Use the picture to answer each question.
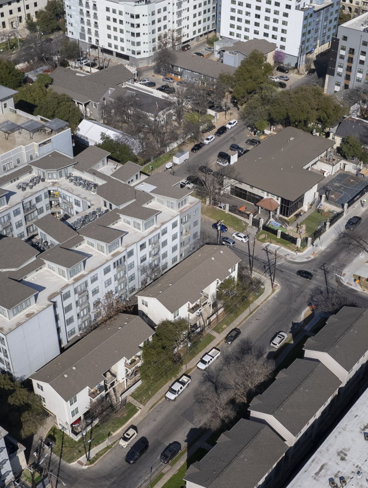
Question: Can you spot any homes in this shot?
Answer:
Yes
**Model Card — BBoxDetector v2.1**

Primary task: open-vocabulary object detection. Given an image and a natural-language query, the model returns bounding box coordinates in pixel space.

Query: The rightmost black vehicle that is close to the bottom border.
[157,440,186,467]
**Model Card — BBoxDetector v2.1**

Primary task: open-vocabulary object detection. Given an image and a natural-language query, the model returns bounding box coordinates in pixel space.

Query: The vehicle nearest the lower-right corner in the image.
[269,332,290,350]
